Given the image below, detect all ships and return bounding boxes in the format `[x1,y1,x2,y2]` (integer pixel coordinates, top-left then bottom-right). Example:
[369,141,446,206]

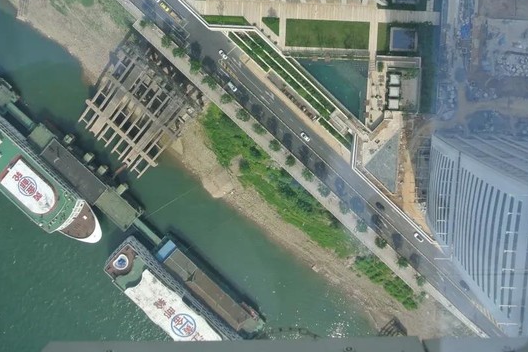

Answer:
[0,114,107,241]
[101,228,259,340]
